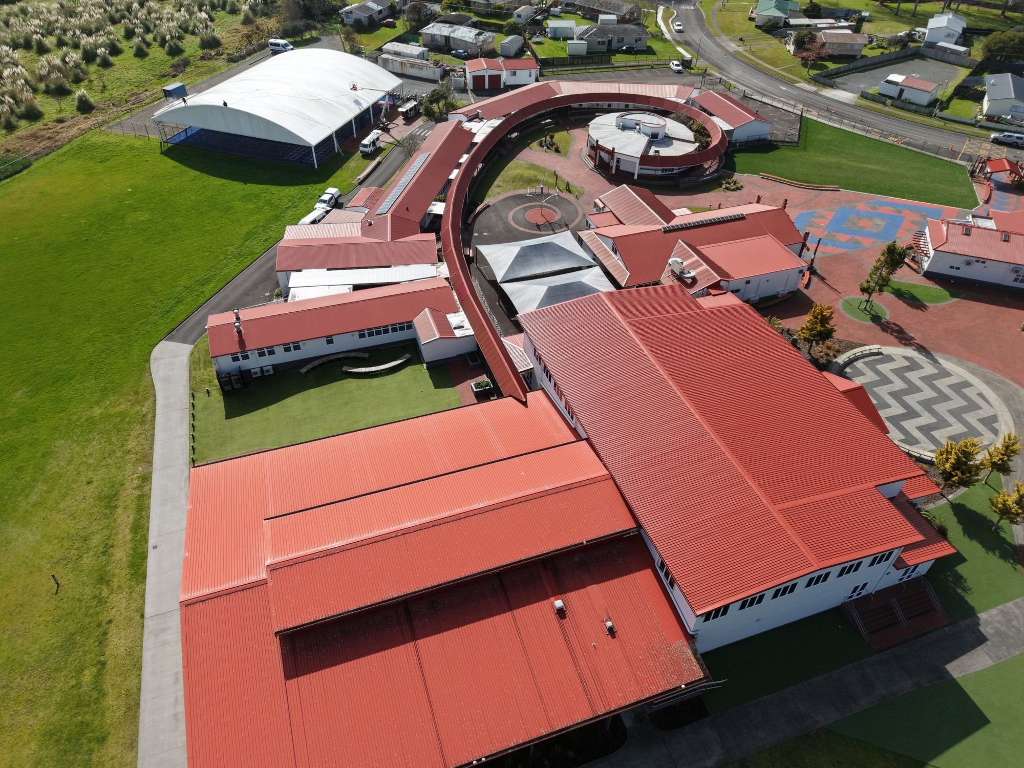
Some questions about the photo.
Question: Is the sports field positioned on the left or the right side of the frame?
left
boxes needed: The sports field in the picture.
[0,136,393,768]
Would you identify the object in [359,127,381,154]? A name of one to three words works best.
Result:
vehicle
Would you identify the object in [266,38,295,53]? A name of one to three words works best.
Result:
vehicle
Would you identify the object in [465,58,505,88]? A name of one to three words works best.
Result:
building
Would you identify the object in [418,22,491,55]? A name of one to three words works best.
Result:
house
